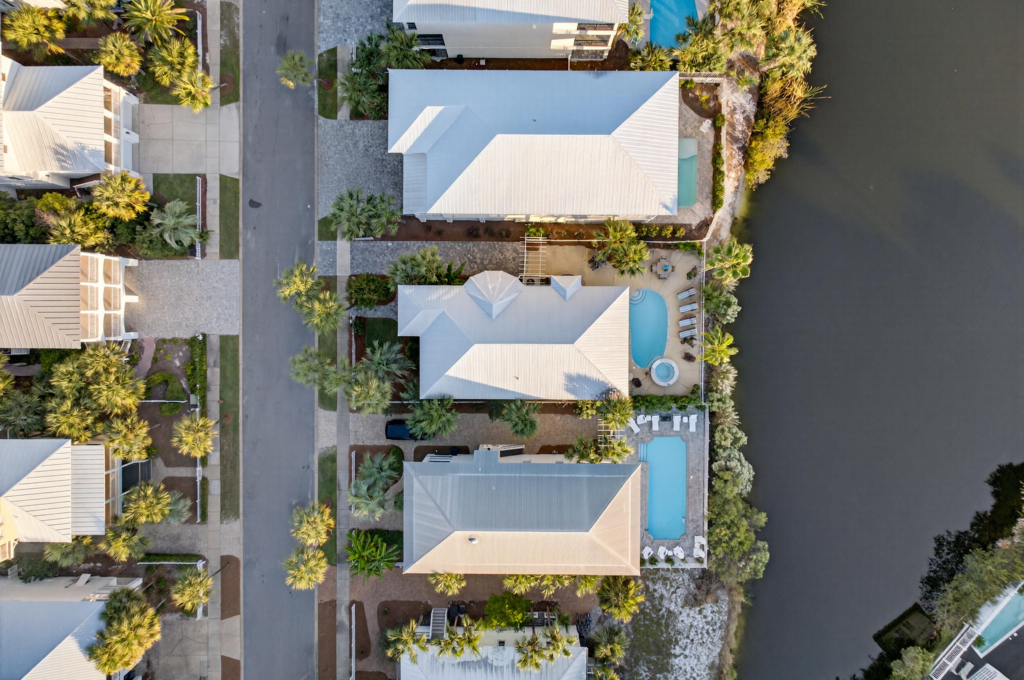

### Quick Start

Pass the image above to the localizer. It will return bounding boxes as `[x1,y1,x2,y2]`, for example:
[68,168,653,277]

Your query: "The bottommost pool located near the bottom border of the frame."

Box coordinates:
[980,585,1024,654]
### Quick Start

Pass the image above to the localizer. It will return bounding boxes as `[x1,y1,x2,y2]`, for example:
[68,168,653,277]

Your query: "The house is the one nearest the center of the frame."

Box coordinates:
[397,270,630,400]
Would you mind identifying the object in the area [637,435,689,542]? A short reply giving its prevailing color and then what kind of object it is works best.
blue swimming pool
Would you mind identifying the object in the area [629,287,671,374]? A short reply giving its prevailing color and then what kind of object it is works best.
blue swimming pool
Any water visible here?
Yes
